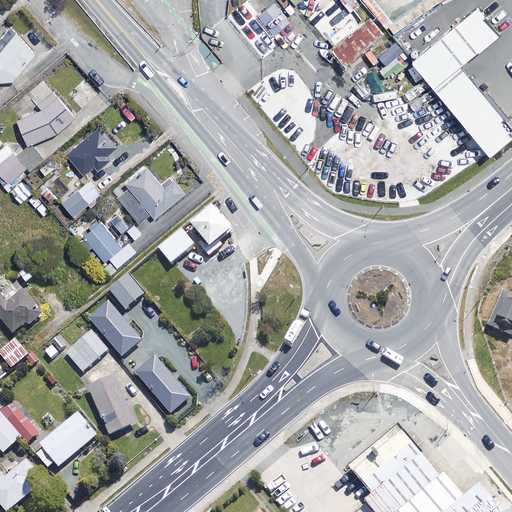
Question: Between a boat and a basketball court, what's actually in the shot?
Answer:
boat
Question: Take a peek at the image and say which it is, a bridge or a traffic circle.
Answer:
traffic circle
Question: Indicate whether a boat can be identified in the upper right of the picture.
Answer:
Yes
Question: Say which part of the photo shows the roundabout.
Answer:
right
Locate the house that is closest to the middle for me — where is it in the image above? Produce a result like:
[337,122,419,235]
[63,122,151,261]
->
[190,202,231,255]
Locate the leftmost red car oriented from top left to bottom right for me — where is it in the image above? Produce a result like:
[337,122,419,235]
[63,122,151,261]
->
[120,104,134,120]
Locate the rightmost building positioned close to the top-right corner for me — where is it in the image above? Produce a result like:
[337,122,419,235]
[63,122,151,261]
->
[412,8,512,160]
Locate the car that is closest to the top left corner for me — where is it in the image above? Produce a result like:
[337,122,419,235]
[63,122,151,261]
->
[26,30,40,46]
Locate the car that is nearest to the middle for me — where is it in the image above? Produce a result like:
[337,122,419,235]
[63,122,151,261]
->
[218,244,234,258]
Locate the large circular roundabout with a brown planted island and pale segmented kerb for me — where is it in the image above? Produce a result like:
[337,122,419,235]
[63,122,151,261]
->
[347,265,412,330]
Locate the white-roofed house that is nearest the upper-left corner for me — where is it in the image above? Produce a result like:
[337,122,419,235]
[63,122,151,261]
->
[0,28,35,82]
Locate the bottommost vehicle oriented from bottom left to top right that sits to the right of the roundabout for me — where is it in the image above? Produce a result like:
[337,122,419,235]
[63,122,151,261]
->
[438,264,454,283]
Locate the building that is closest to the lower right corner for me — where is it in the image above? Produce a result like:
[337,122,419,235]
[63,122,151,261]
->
[348,424,502,512]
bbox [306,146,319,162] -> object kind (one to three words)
vehicle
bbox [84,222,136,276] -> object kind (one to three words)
house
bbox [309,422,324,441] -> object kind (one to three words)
vehicle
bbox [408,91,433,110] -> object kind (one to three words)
boat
